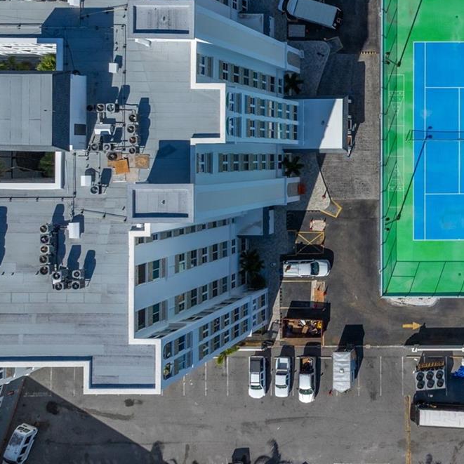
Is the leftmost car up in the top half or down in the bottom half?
bottom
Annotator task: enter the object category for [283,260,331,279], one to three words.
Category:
vehicle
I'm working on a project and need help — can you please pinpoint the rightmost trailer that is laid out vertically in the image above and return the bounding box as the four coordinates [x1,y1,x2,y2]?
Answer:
[333,347,355,393]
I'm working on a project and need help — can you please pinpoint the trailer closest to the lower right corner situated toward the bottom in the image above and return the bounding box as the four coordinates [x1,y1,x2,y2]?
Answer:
[409,398,464,429]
